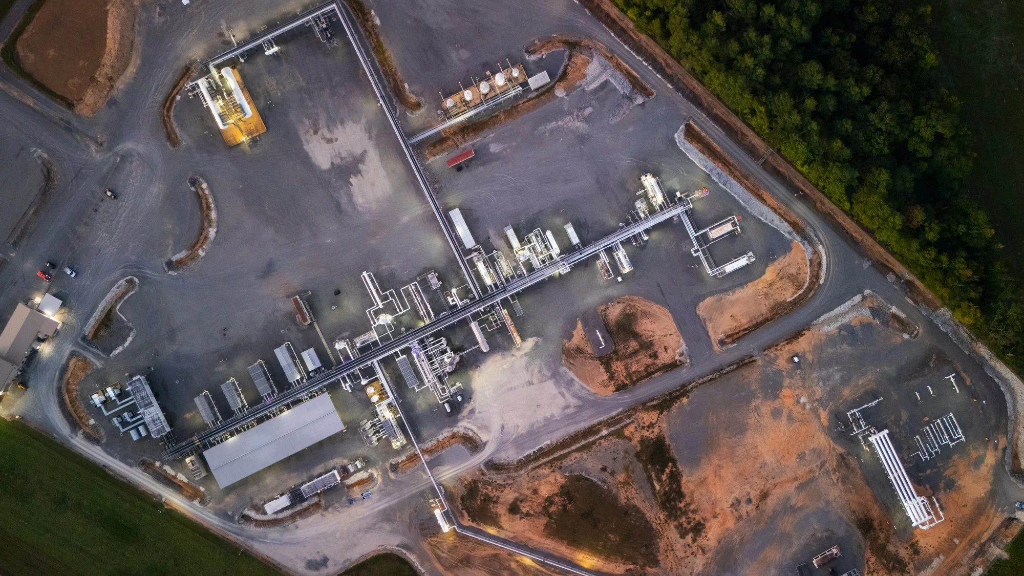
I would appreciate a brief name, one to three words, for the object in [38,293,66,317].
building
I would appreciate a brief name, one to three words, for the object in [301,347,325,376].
shed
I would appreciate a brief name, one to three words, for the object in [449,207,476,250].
building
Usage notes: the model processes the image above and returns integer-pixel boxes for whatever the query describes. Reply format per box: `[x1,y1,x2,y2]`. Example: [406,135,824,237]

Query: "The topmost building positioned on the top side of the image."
[528,71,554,93]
